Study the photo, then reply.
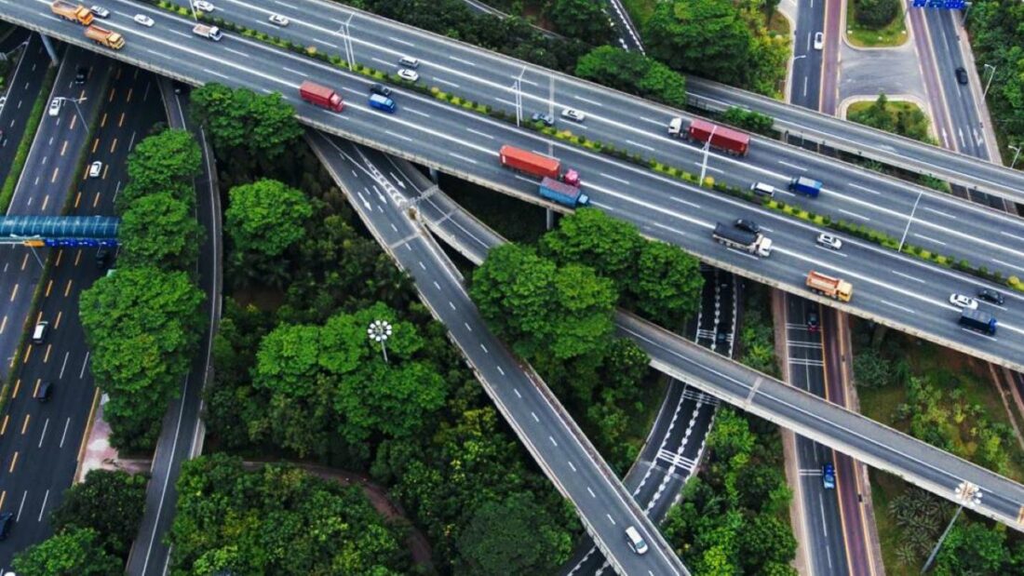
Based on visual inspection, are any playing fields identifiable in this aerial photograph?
No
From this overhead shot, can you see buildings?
No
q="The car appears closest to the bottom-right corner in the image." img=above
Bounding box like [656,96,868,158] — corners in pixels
[822,467,835,489]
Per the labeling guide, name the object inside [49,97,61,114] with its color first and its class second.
white vehicle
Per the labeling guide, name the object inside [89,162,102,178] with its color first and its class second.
white vehicle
